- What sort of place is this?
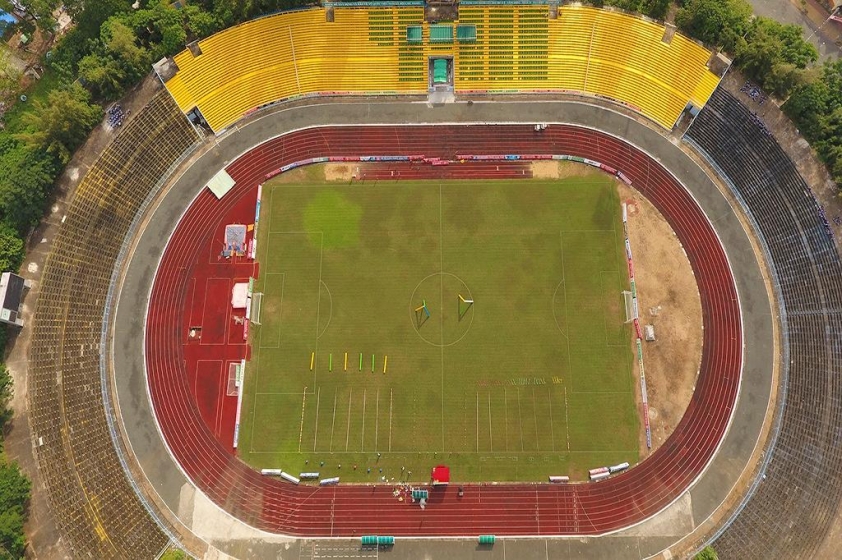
sports ground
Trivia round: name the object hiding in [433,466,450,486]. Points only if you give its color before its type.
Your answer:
red tent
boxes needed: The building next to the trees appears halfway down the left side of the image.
[0,271,35,328]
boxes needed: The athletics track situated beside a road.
[146,123,743,538]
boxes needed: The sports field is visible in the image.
[237,158,642,486]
